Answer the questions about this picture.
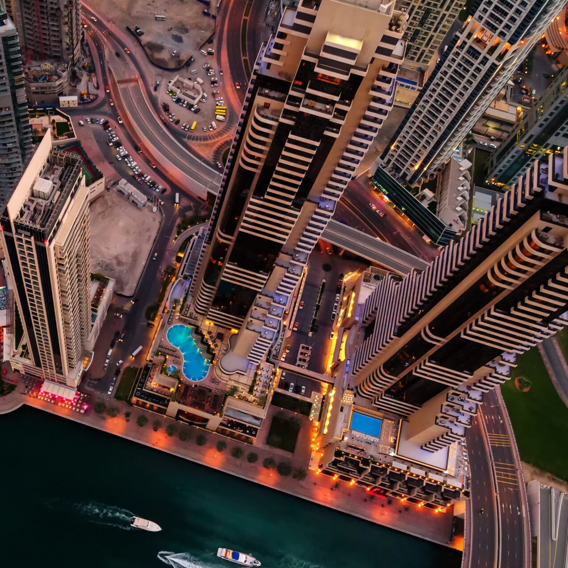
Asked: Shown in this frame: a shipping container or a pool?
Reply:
pool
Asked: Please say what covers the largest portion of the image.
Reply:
buildings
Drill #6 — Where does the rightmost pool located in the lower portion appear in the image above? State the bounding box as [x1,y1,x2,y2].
[350,413,382,436]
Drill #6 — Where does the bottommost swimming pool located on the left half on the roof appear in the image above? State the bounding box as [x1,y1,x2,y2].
[167,324,211,381]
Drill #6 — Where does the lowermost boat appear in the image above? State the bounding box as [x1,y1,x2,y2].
[218,547,261,566]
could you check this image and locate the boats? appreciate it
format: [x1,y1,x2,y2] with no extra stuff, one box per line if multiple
[131,518,161,530]
[218,547,261,566]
